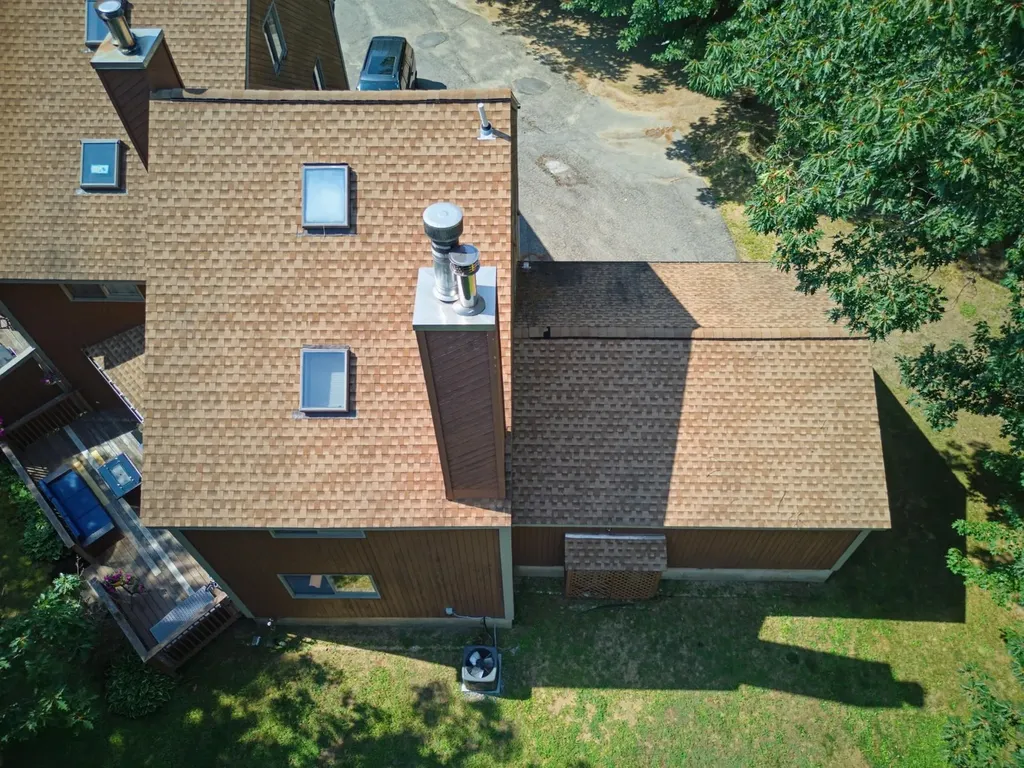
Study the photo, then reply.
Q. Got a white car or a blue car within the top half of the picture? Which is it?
blue car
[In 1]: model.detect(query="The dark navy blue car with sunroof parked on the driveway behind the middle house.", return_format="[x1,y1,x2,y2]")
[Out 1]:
[360,39,417,87]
